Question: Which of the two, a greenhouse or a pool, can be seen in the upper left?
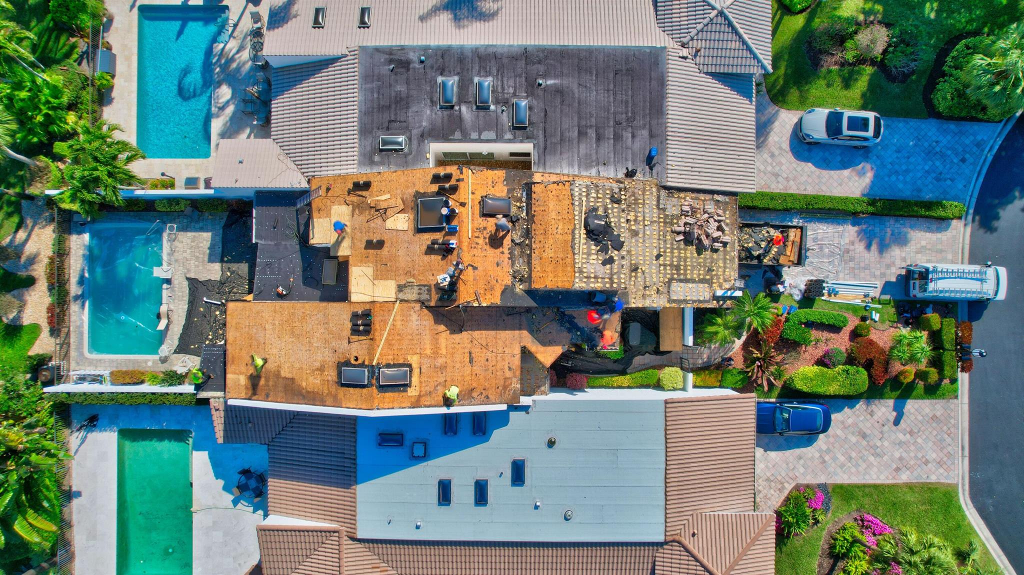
pool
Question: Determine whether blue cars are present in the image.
Yes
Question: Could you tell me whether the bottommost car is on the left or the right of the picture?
right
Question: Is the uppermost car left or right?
right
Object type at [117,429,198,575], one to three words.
swimming pool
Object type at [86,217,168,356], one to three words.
swimming pool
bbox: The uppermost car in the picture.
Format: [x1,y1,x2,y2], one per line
[794,107,883,150]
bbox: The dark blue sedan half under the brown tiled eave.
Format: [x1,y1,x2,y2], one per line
[757,399,832,439]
